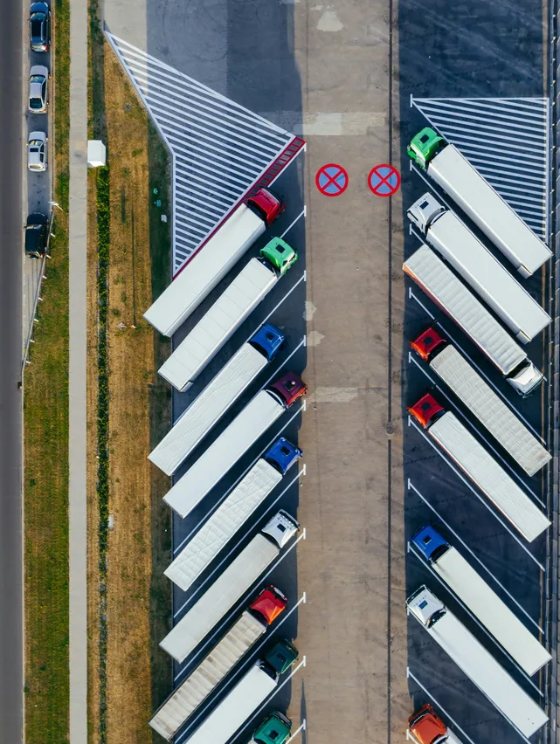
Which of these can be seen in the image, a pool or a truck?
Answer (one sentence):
Visible in the photo is a truck.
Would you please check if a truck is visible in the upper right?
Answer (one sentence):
Yes, you'll find a truck in the upper right.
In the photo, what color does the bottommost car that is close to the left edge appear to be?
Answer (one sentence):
From above, the bottommost car that is close to the left edge appears black.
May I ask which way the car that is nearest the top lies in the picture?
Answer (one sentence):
The car that is nearest the top has been laid out from top to bottom relative to the frame.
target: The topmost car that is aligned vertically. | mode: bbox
[27,3,51,54]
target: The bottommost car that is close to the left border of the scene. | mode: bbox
[25,212,50,262]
